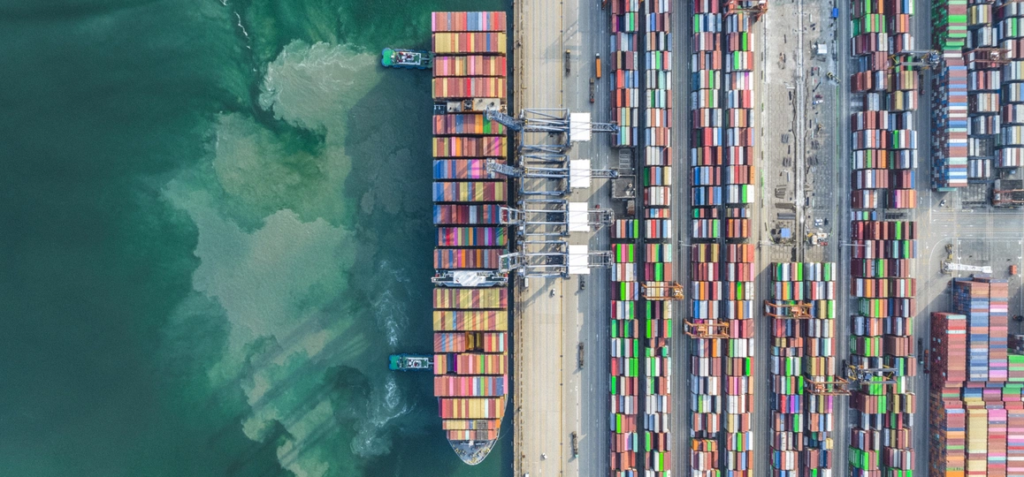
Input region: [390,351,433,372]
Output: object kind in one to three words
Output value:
boat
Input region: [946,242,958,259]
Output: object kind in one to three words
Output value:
vehicle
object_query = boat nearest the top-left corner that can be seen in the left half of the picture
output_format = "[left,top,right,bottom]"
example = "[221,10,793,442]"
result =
[382,48,434,70]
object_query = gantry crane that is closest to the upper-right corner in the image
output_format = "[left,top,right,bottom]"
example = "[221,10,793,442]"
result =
[963,45,1012,68]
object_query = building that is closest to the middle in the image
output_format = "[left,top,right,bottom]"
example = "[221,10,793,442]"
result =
[609,176,635,199]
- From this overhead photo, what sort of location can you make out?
port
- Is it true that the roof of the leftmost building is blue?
No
